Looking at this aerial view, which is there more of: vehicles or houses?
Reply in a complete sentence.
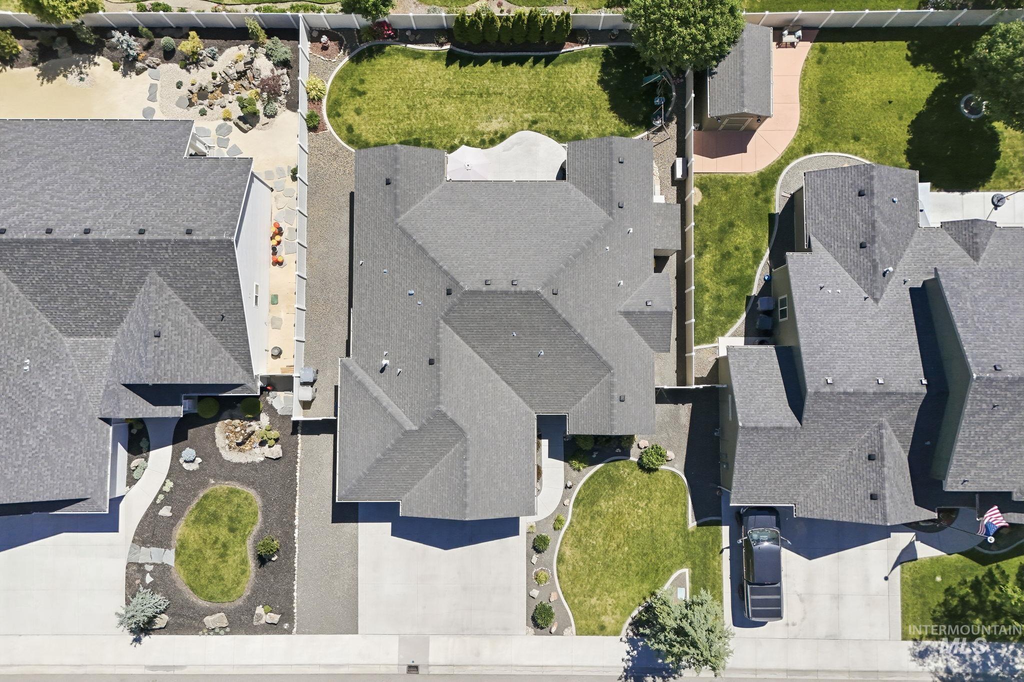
There are fewer vehicles than houses.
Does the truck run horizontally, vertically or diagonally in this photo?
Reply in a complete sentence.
The truck is laid out vertically.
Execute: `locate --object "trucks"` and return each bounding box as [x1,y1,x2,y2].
[739,506,797,622]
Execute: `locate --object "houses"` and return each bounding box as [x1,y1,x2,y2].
[336,137,681,521]
[717,163,1024,526]
[0,117,271,516]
